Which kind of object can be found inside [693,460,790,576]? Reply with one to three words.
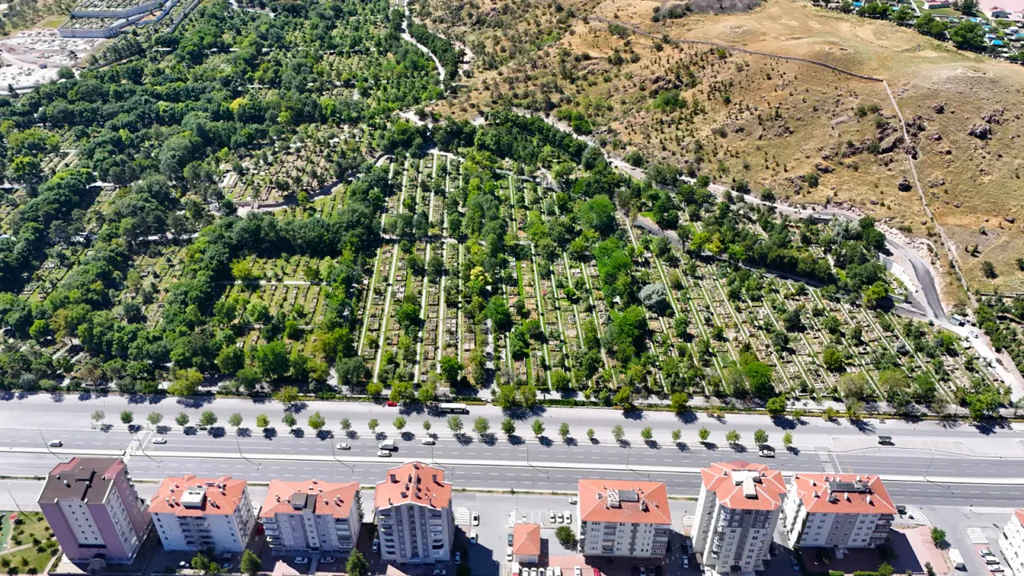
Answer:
building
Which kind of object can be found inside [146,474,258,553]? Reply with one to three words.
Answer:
building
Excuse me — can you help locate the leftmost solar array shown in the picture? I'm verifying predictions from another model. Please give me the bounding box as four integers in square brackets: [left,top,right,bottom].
[618,488,643,502]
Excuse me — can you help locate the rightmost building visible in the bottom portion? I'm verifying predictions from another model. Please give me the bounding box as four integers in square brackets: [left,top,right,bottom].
[994,508,1024,575]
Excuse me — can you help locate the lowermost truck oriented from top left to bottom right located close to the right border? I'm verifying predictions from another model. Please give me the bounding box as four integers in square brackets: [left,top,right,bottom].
[943,548,977,572]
